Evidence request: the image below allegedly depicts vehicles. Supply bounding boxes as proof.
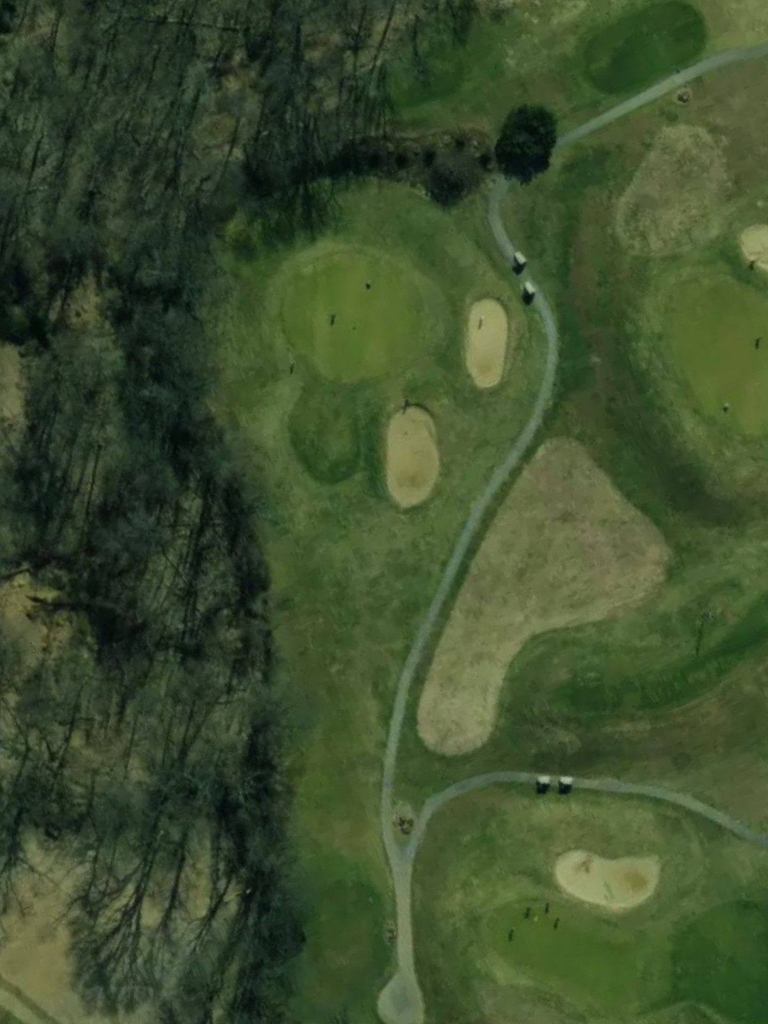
[559,778,575,786]
[522,282,536,299]
[512,249,526,265]
[537,777,552,785]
